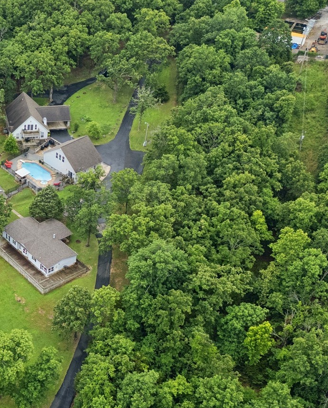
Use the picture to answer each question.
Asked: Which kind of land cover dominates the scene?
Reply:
trees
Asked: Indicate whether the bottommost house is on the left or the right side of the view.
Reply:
left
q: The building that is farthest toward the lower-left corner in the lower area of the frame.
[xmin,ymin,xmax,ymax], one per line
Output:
[4,217,77,276]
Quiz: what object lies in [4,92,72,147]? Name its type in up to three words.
house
